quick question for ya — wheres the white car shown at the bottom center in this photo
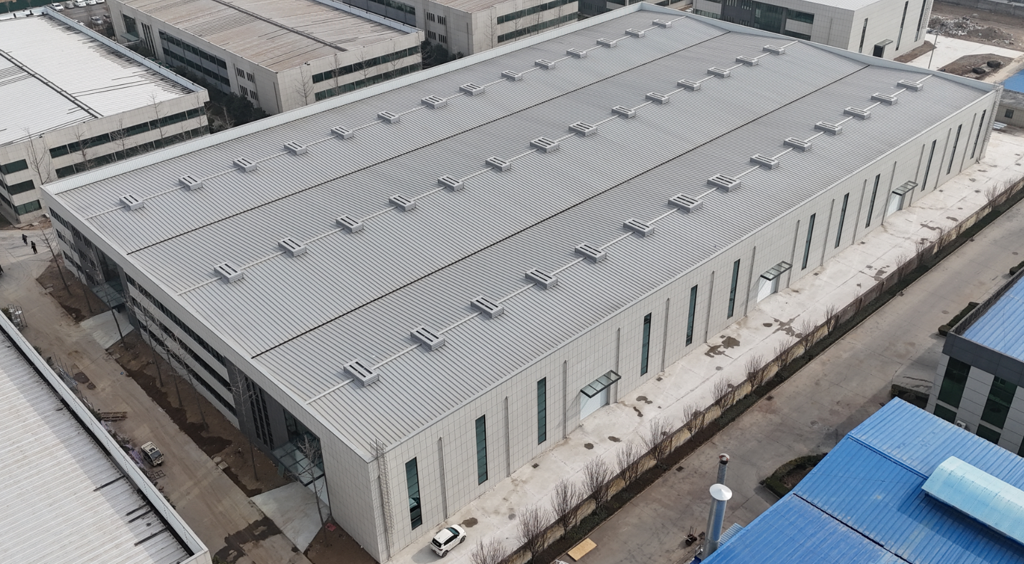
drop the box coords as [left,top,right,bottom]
[429,525,467,557]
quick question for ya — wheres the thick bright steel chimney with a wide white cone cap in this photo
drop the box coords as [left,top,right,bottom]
[705,485,732,556]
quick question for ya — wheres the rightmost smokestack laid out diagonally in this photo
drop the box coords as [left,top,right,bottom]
[618,446,801,558]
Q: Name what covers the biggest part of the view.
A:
buildings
